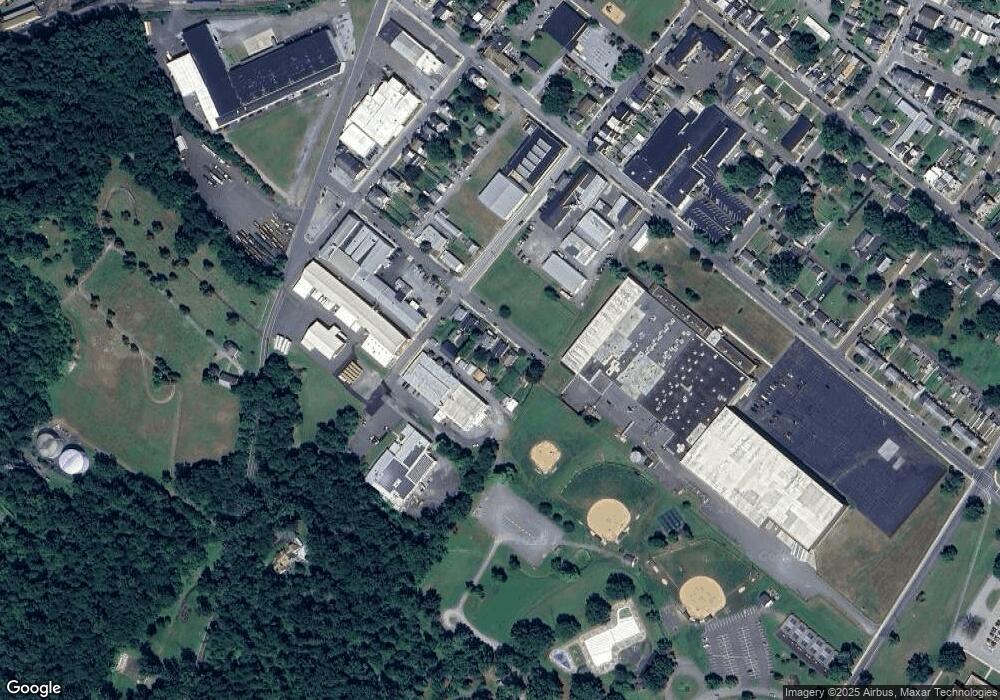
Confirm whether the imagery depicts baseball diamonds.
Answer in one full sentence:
Yes, the photo shows a baseball diamond.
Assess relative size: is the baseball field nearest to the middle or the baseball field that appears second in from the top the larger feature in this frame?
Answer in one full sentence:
The larger object is the baseball field that appears second in from the top, with the baseball field nearest to the middle being the smaller of the pair.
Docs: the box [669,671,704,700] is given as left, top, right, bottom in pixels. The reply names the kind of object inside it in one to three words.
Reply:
roundabout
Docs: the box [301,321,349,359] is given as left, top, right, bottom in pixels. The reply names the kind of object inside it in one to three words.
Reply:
building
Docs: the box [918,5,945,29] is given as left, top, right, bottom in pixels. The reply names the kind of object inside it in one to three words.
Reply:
house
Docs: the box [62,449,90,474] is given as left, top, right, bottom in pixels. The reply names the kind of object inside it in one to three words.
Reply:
water tank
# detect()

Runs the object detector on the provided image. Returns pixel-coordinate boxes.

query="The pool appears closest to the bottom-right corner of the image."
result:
[580,598,646,677]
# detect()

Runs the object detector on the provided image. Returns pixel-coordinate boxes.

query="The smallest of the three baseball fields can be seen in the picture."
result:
[529,440,562,478]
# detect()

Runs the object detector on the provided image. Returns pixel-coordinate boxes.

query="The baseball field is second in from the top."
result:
[562,462,654,546]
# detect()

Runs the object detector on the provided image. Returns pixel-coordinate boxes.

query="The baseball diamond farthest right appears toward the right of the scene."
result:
[647,543,755,623]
